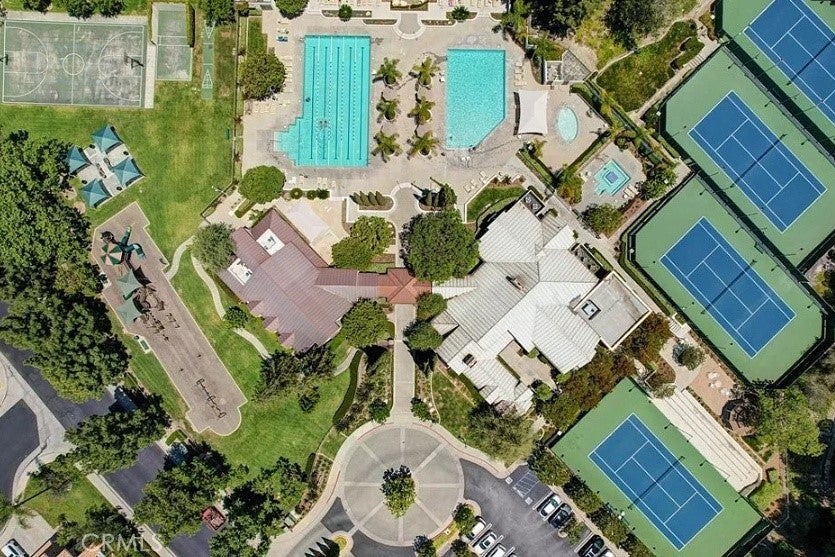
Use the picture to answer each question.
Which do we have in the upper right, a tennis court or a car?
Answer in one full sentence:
You can see a tennis court in the upper right.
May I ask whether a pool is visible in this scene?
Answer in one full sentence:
Yes, there's a pool here.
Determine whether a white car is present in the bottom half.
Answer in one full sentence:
Yes, looking in the bottom half, one can make out a white car.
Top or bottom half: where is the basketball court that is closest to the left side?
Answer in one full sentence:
The basketball court that is closest to the left side sits in the top half of the picture.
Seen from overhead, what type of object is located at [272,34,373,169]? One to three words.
swimming pool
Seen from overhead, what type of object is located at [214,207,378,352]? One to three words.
building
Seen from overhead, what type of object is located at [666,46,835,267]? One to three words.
tennis court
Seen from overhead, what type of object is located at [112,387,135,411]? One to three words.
car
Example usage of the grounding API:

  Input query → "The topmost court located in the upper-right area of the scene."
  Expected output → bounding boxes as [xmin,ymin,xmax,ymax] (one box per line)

[722,0,835,143]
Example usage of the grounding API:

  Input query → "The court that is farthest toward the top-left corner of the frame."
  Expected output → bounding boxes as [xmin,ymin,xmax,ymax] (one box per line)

[0,20,147,108]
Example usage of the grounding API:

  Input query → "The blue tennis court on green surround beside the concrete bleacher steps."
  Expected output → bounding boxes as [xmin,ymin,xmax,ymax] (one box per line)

[552,379,762,557]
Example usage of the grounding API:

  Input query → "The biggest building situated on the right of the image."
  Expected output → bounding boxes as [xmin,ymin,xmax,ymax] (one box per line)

[431,190,652,412]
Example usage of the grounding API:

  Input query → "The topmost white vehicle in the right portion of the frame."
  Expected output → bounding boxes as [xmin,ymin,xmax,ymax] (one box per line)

[538,494,563,518]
